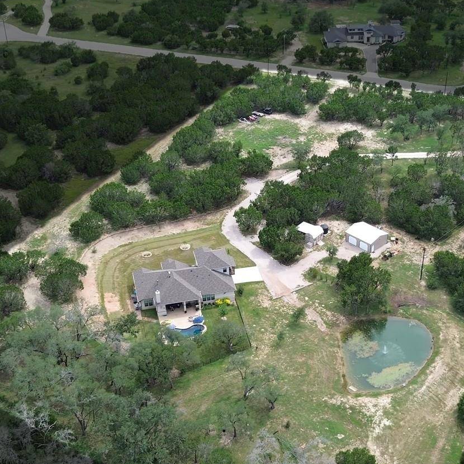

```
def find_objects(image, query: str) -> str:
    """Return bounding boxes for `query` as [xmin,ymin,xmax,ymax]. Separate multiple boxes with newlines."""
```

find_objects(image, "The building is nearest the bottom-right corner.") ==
[345,219,388,253]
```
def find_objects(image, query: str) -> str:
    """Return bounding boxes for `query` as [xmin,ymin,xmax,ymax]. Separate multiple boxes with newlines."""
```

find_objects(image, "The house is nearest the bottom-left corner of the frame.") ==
[134,245,237,316]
